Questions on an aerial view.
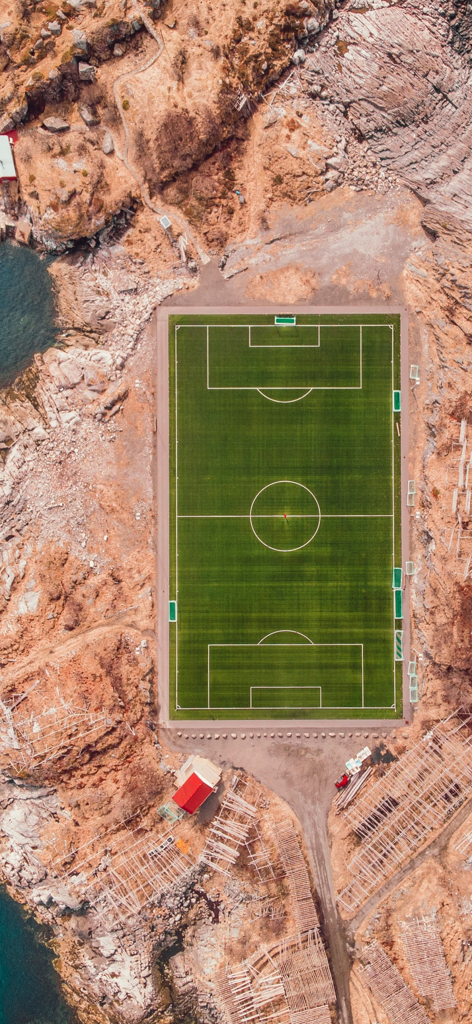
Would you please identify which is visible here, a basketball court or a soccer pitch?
soccer pitch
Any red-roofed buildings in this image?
Yes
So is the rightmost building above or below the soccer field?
below it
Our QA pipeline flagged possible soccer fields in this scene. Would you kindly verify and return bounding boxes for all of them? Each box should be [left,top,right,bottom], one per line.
[157,306,409,727]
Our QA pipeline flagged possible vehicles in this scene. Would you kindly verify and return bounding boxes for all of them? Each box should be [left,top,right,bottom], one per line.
[335,773,350,789]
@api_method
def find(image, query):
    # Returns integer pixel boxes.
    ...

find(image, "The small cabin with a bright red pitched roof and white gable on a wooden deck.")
[172,770,213,814]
